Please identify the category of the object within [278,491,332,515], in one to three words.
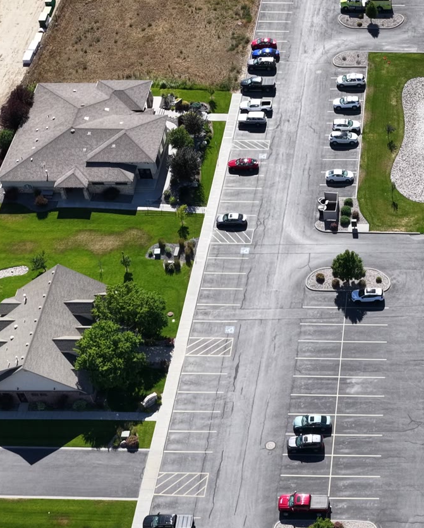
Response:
truck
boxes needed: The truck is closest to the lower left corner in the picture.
[141,506,198,528]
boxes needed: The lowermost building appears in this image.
[0,263,108,411]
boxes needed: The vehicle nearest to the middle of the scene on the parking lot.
[216,211,250,226]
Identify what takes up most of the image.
paved ground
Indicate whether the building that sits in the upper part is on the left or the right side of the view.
left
